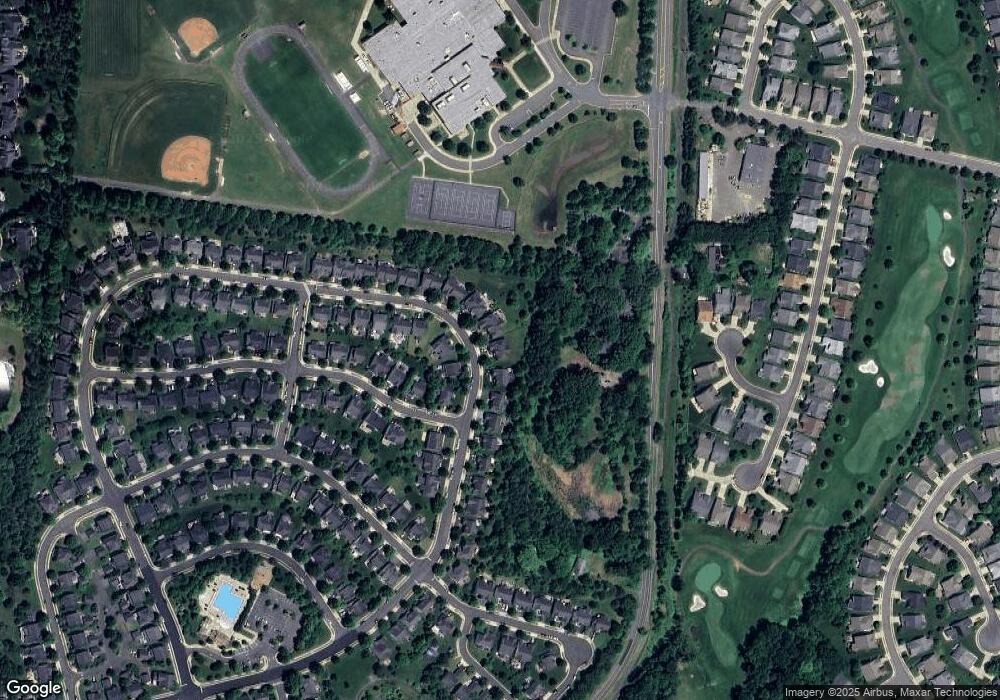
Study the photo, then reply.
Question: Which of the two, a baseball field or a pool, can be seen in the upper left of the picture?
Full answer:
Visible in the upper left of the picture is a baseball field.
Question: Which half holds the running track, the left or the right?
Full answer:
The running track sits on the left side.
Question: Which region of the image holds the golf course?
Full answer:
The golf course is in the right part of the image.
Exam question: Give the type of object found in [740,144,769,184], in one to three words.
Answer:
building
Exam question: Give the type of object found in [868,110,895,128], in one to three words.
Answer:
house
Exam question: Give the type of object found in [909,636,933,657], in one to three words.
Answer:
house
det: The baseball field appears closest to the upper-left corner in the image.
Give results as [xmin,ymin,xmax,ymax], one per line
[179,18,219,56]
